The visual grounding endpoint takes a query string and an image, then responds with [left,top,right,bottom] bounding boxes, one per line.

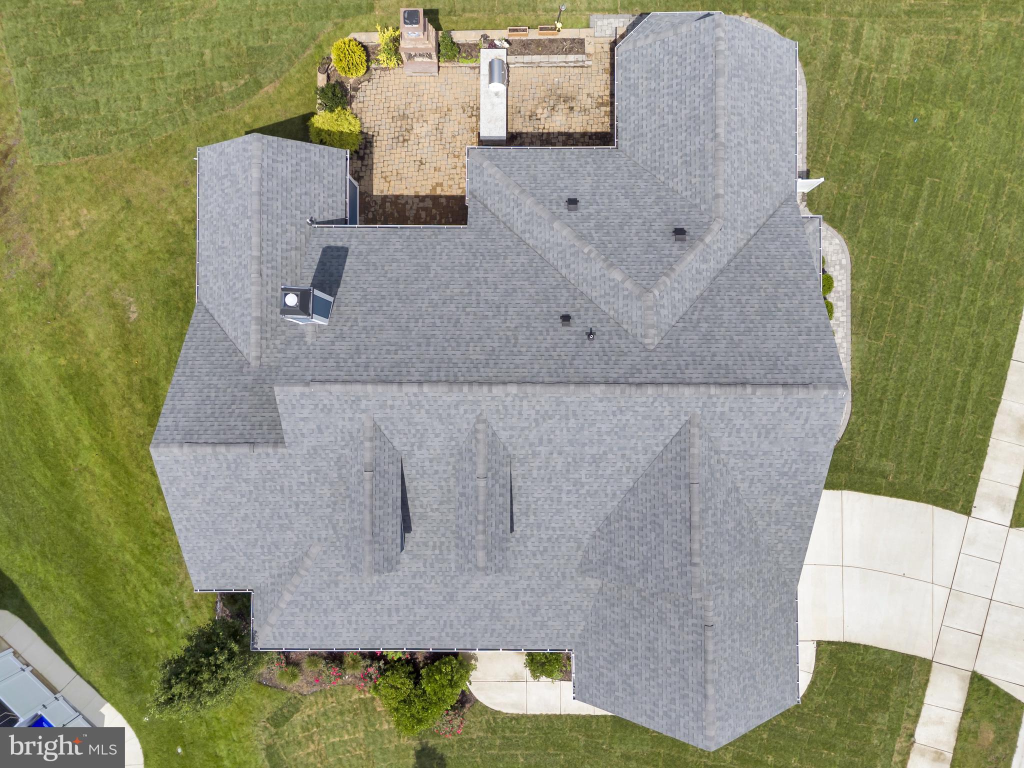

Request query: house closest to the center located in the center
[150,12,848,751]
